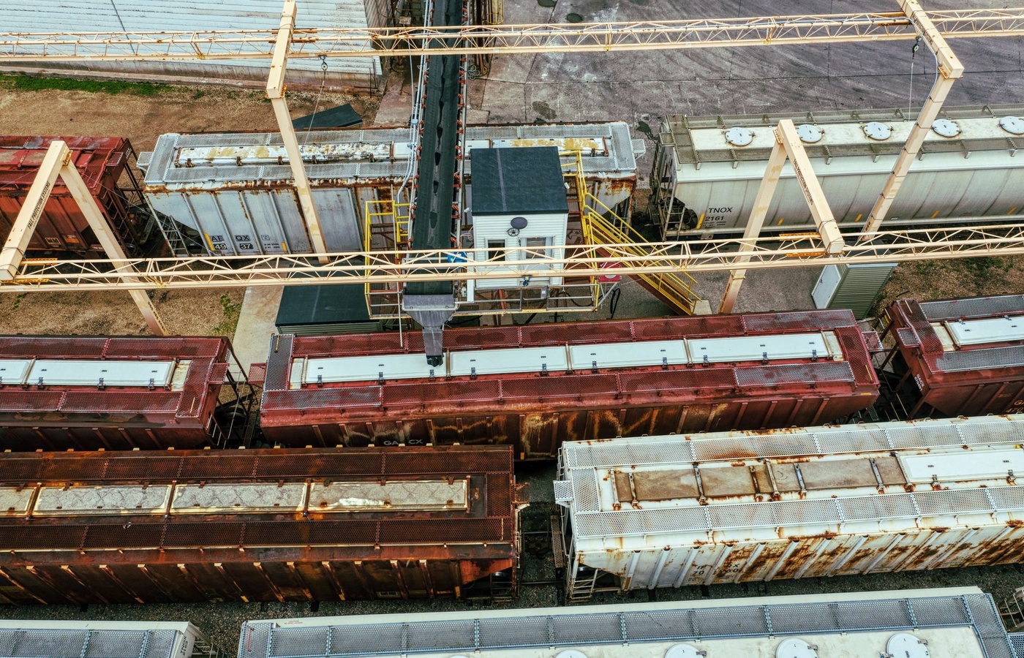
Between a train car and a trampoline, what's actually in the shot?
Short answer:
train car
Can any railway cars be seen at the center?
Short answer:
Yes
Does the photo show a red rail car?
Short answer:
Yes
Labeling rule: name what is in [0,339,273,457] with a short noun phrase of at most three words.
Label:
rail car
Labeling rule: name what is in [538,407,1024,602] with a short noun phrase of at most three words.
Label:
rail car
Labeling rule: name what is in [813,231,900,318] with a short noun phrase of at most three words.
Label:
shed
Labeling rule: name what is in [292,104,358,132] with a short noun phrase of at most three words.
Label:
shed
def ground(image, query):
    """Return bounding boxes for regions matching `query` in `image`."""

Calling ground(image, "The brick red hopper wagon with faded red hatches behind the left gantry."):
[0,139,171,269]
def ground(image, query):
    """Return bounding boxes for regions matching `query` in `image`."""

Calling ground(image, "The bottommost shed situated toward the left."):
[276,256,387,334]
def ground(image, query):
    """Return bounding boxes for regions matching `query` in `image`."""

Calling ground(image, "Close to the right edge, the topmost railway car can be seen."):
[638,99,1024,238]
